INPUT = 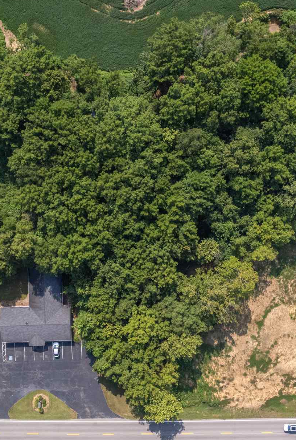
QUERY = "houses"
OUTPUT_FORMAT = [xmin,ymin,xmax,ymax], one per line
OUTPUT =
[0,257,74,346]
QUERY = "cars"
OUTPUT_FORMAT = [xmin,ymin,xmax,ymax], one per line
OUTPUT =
[284,424,296,432]
[53,342,61,358]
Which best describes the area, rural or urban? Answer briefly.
rural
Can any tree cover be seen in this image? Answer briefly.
Yes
